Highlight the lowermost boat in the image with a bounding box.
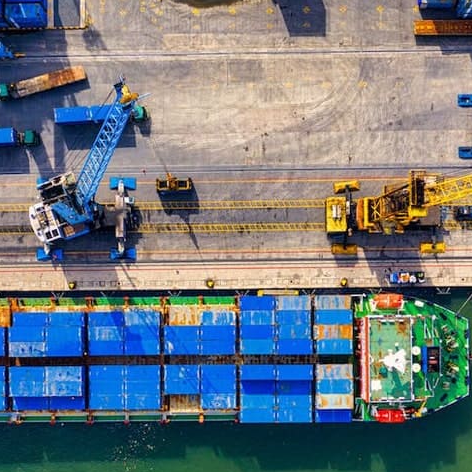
[372,400,406,423]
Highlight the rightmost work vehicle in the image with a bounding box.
[452,207,472,221]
